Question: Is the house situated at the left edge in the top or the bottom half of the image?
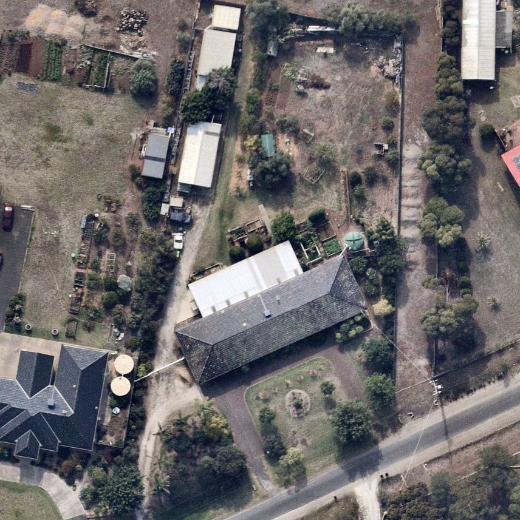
bottom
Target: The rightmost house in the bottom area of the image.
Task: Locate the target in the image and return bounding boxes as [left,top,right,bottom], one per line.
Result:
[175,241,365,383]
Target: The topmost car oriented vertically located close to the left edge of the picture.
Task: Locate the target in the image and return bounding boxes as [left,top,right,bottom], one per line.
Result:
[1,204,15,230]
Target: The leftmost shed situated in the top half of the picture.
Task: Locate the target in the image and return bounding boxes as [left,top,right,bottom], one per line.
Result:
[141,134,170,179]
